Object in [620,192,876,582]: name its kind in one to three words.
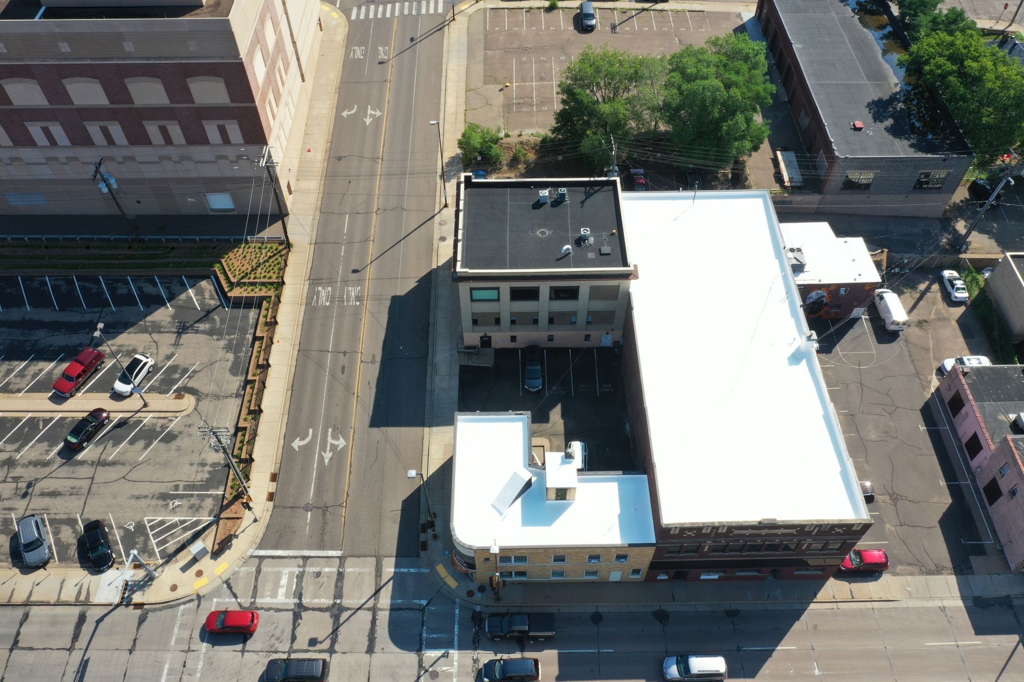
building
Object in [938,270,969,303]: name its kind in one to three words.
car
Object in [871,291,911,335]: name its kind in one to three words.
van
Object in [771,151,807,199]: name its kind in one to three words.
trailer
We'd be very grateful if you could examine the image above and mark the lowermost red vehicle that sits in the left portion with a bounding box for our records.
[202,606,263,638]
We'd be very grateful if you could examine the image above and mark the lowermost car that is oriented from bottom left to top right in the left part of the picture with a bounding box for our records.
[60,408,114,453]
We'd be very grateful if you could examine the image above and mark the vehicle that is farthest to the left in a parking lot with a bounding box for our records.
[14,512,52,566]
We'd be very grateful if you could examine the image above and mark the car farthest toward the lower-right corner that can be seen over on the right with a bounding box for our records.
[836,548,895,580]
